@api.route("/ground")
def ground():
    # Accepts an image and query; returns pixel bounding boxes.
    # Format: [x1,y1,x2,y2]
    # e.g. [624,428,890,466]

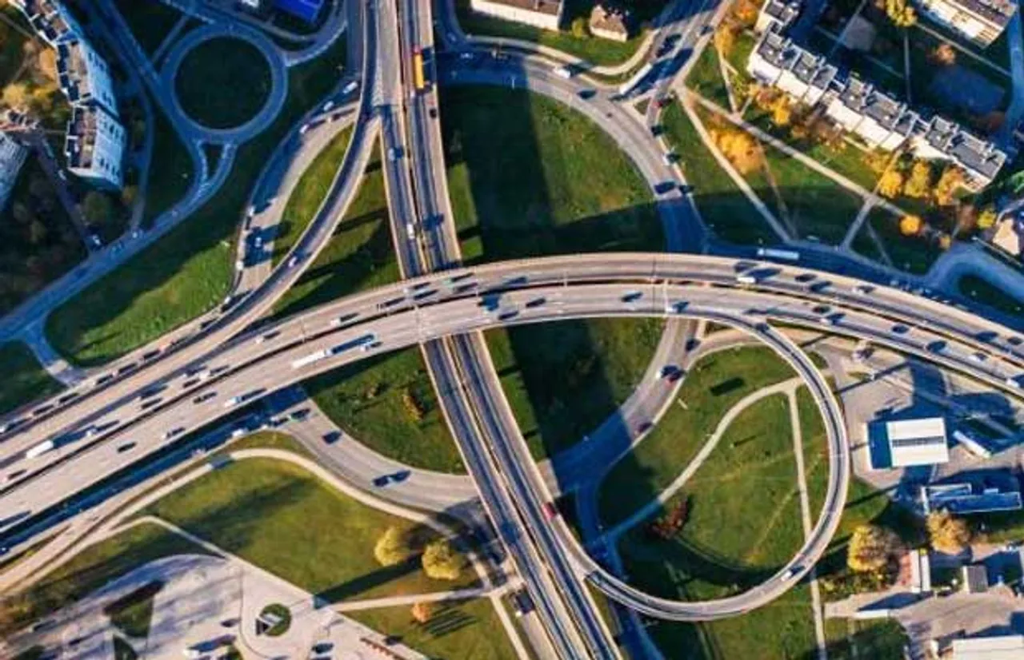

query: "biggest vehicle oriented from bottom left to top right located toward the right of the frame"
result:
[620,62,653,92]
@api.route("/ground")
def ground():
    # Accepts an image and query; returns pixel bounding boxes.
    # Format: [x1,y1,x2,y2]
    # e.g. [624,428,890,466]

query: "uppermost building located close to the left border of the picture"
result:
[7,0,105,56]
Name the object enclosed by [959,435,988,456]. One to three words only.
bus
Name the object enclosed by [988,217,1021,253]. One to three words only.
building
